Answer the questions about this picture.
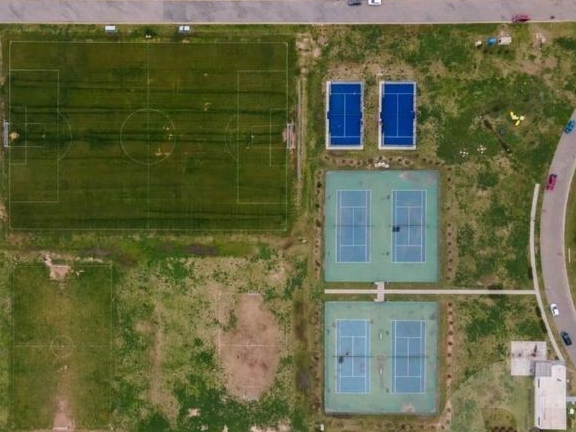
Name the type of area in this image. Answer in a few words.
sports ground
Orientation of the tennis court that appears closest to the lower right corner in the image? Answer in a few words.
from top to bottom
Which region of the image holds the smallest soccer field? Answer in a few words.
bottom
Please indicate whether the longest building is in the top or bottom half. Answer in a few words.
bottom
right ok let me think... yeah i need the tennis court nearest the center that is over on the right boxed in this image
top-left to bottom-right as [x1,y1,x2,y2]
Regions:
[334,189,375,263]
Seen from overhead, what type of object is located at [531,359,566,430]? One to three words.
building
